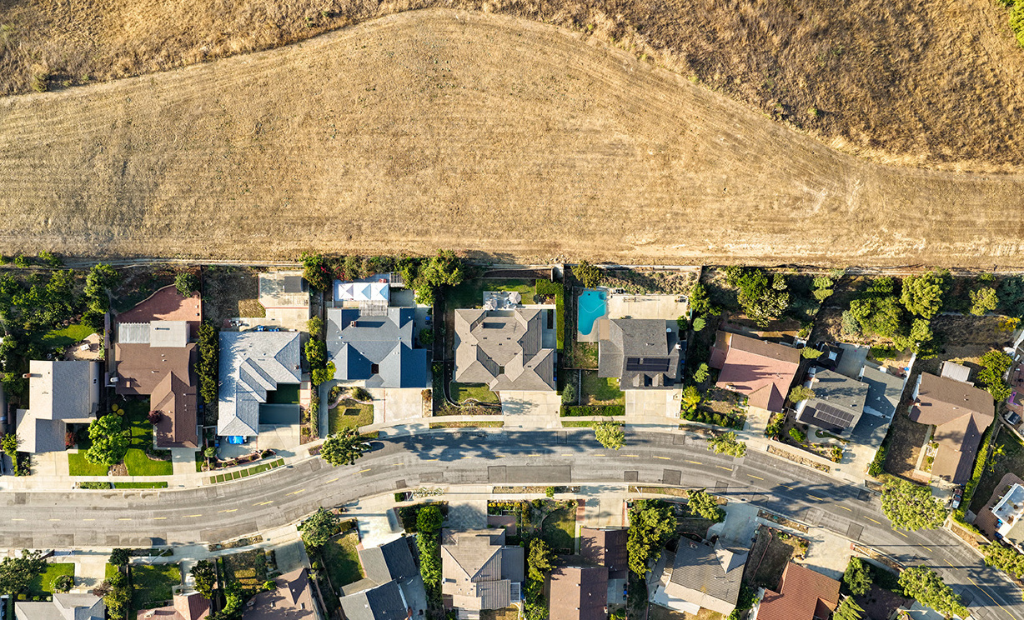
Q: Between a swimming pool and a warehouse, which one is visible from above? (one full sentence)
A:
It is a swimming pool that can be seen here.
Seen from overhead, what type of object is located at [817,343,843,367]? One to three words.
gazebo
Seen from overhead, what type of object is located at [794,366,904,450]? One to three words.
house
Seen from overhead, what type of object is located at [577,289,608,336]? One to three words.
swimming pool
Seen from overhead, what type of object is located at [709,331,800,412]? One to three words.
house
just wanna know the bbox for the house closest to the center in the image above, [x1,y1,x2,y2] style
[455,309,554,391]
